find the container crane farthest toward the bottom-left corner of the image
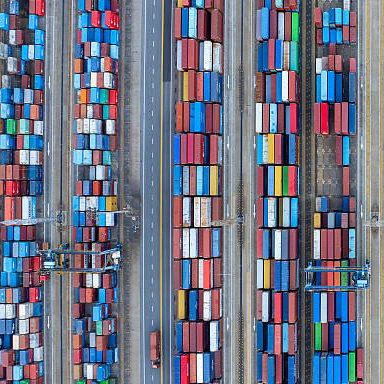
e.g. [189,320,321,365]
[38,243,122,275]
